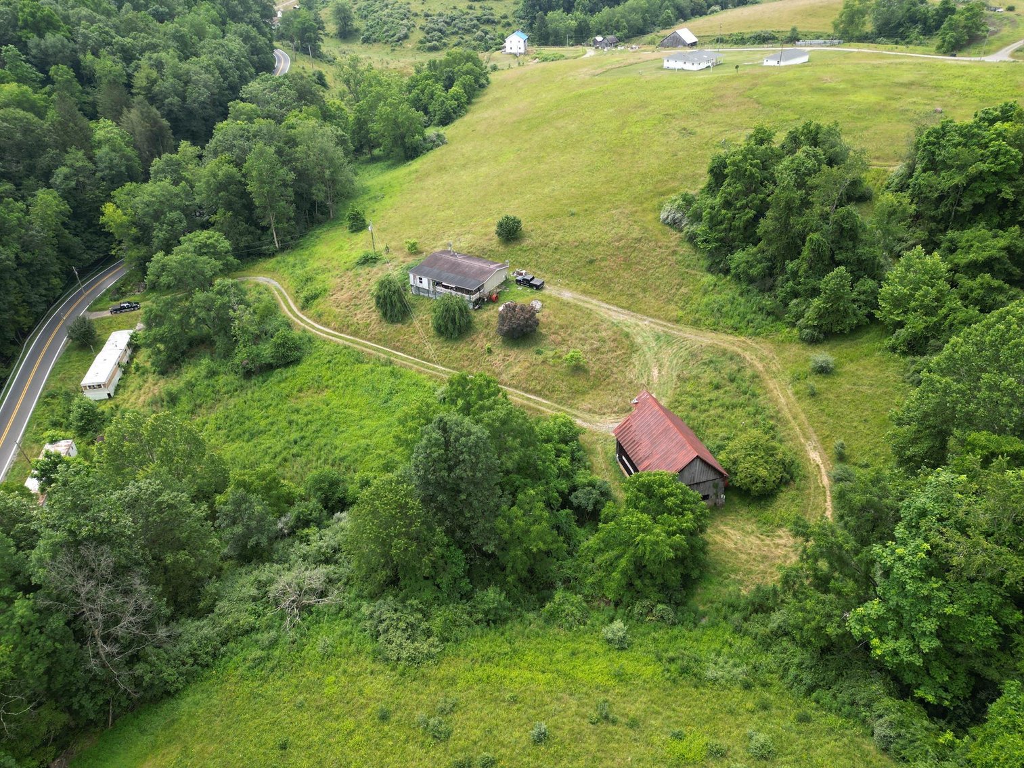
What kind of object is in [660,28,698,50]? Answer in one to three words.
barn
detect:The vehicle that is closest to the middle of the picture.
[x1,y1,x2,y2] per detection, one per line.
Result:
[514,274,547,289]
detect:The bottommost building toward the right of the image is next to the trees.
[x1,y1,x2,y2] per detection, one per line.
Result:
[615,390,728,514]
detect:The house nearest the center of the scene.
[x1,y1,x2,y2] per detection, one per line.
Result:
[408,245,502,311]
